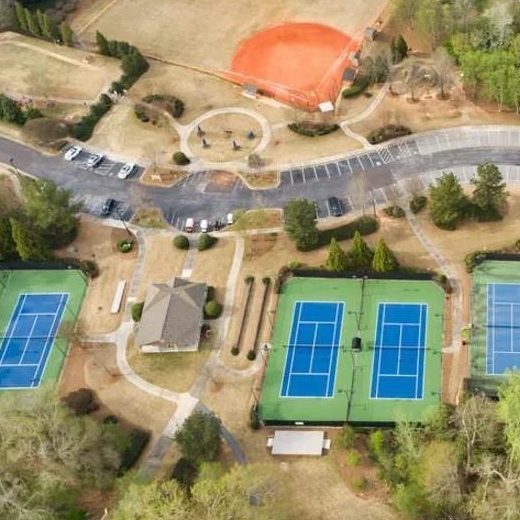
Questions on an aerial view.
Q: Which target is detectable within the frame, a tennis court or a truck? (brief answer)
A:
tennis court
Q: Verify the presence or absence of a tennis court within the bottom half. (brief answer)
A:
Yes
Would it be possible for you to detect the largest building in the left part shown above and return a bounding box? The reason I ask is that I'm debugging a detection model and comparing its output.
[133,271,214,353]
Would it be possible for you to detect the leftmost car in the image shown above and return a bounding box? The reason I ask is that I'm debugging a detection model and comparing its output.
[65,146,82,160]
